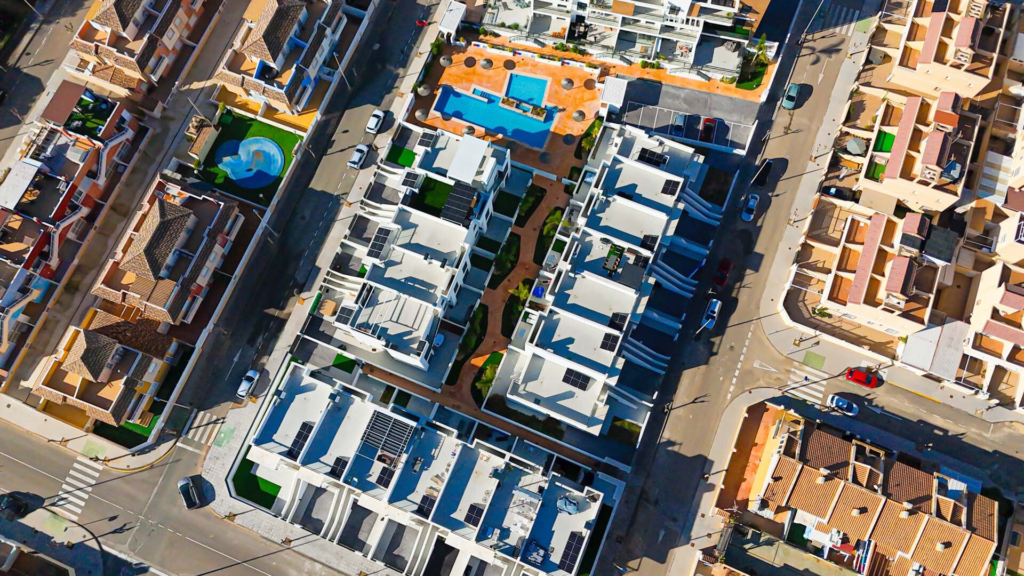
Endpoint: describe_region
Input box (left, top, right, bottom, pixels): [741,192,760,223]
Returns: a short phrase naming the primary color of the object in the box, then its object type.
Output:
blue car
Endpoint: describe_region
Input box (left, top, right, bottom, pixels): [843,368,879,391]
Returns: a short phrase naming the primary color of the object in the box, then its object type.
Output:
red car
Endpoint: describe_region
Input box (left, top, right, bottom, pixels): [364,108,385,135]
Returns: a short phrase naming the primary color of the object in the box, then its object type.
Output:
white car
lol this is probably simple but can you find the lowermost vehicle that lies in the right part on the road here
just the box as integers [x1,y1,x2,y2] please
[825,392,860,417]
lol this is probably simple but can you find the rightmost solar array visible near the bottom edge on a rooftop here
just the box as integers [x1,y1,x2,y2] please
[552,528,585,576]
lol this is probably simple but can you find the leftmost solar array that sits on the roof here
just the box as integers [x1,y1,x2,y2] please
[282,430,307,462]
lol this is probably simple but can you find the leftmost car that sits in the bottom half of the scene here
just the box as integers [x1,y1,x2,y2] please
[0,498,30,519]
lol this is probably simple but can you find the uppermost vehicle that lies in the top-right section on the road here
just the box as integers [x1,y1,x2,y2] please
[782,83,800,111]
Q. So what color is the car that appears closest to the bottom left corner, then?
black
